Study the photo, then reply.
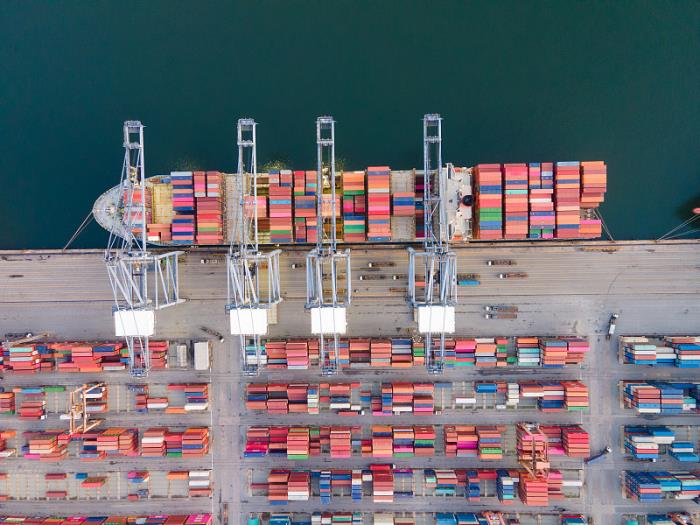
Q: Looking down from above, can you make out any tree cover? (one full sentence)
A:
No, there's no tree cover in this view.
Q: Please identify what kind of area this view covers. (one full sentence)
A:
This looks like a port.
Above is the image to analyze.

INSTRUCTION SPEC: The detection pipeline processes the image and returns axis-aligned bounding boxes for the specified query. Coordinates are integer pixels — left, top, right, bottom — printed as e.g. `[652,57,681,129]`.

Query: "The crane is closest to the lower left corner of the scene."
[68,381,107,433]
